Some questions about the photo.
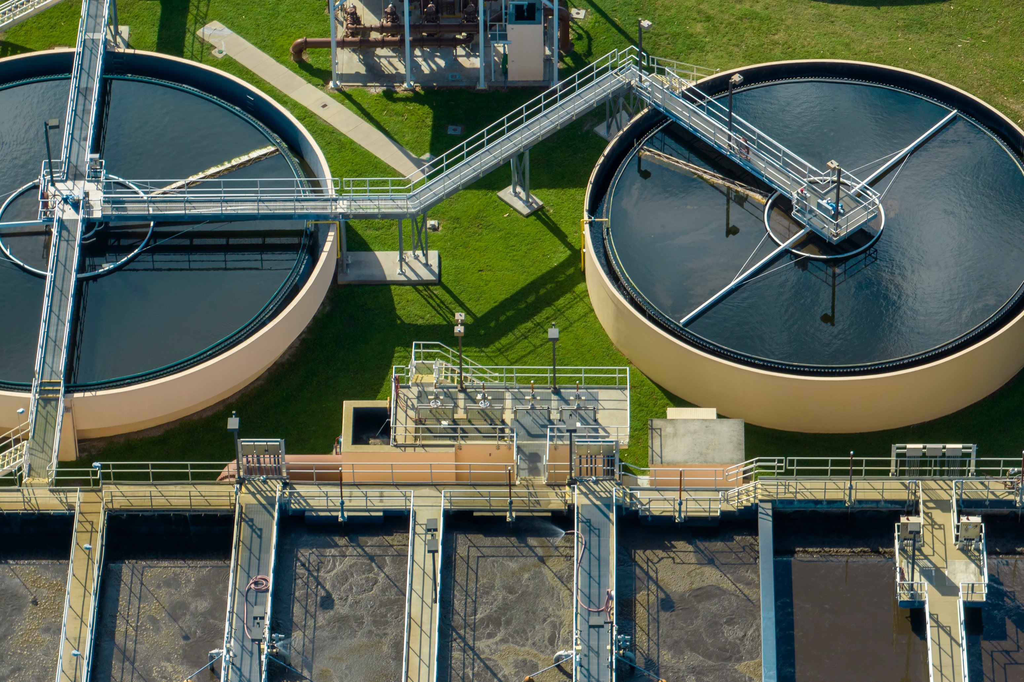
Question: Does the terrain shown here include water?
Yes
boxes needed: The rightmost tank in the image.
[584,59,1024,433]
